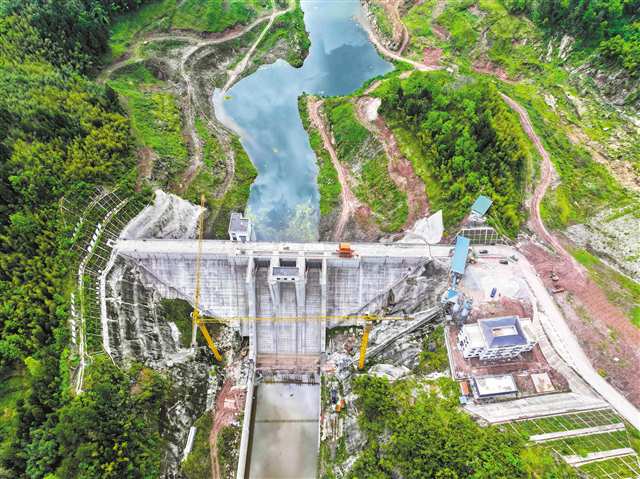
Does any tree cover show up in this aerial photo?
Yes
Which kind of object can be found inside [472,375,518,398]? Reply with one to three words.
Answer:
building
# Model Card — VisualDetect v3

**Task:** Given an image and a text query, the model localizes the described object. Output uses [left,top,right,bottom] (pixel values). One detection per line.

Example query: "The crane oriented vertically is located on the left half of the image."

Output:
[193,194,227,366]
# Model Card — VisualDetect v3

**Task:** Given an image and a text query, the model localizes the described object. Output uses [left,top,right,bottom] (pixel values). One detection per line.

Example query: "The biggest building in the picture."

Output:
[460,316,536,356]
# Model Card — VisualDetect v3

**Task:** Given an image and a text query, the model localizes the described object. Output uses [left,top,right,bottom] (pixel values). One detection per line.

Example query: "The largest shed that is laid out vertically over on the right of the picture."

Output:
[450,235,468,281]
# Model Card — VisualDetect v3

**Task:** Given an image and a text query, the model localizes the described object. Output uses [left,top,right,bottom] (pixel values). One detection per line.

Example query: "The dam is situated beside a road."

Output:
[107,239,452,479]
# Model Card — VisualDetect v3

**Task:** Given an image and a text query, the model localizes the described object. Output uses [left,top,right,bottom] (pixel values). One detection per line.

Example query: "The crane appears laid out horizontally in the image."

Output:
[206,311,411,373]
